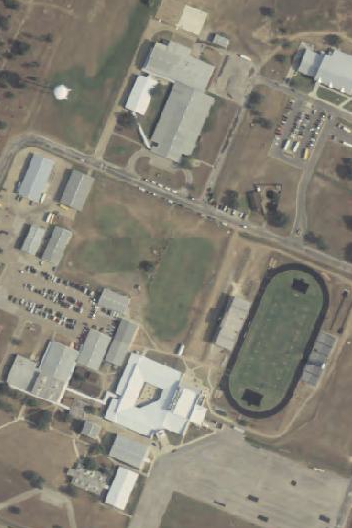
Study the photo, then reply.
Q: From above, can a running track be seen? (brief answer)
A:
Yes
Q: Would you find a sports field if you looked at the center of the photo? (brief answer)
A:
Yes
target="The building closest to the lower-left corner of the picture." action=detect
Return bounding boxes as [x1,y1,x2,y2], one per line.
[68,469,108,496]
